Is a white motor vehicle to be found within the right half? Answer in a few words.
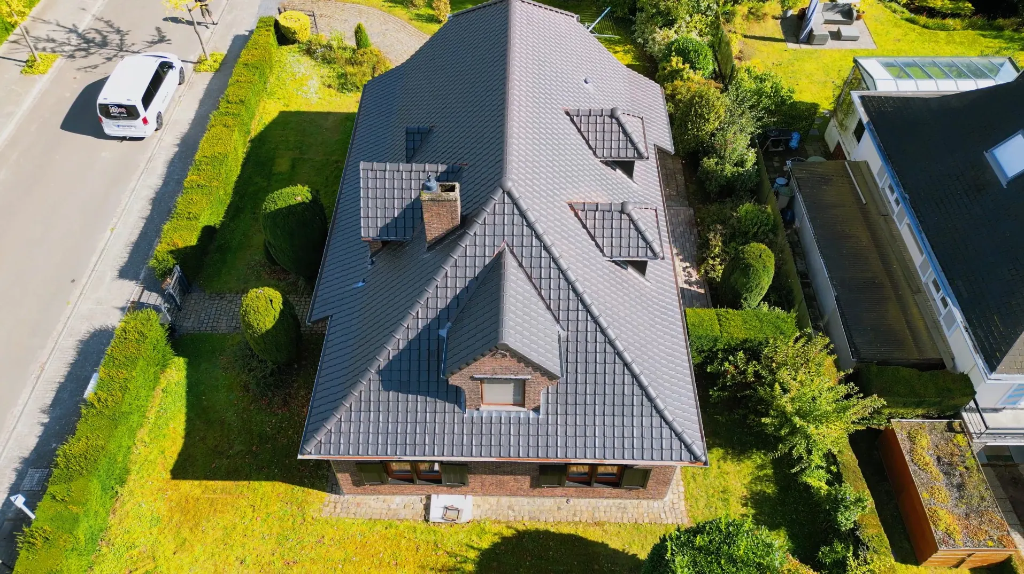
No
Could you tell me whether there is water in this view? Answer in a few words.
No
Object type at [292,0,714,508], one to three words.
house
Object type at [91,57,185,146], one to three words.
van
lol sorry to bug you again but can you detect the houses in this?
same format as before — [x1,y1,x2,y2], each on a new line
[292,0,714,508]
[820,64,1024,459]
